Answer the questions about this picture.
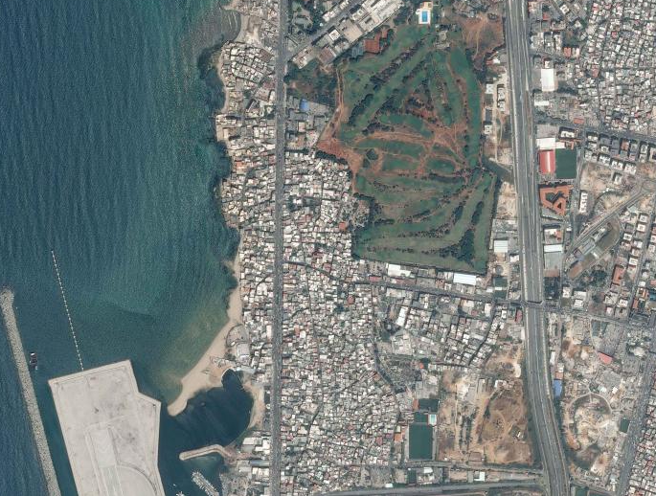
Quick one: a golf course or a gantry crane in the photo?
golf course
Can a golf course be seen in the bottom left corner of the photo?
No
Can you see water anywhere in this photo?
Yes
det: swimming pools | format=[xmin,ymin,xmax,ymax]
[429,413,437,425]
[419,9,431,25]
